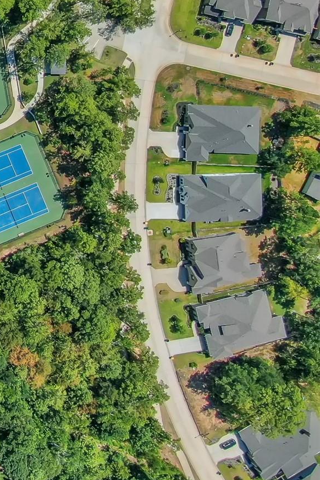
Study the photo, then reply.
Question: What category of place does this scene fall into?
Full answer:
It's a residential area.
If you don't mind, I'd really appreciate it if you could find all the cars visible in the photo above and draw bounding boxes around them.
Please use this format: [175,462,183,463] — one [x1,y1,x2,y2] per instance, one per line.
[221,440,236,450]
[227,22,235,36]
